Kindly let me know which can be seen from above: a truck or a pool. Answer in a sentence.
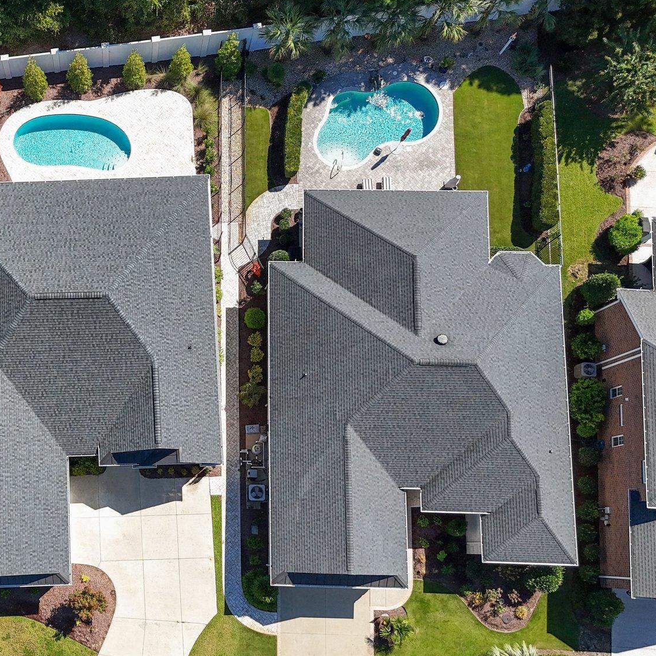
The image shows a pool.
